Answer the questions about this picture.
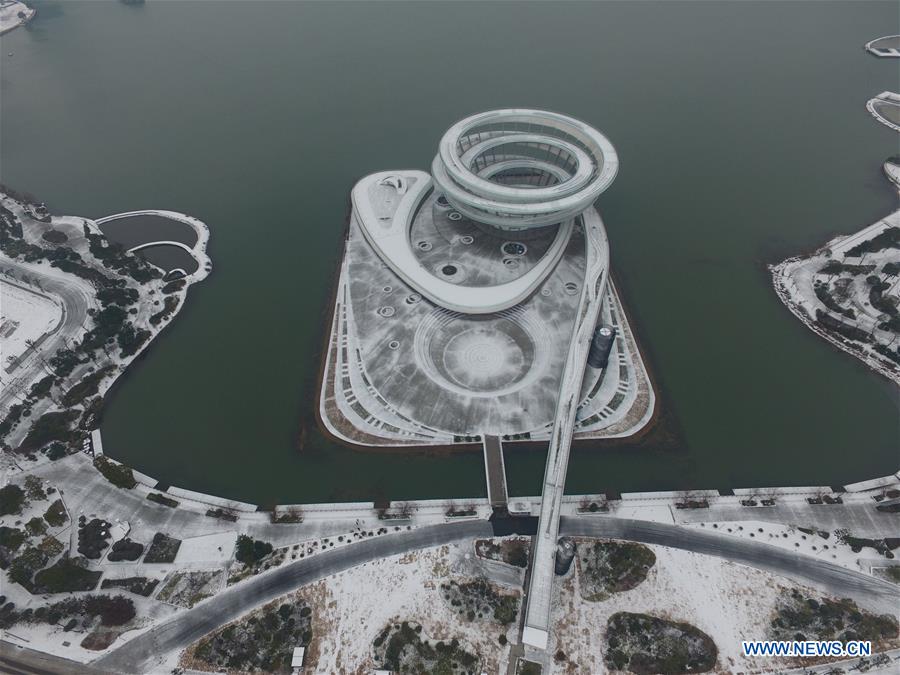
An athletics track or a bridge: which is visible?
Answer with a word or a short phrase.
bridge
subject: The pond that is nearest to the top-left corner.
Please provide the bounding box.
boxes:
[99,217,199,280]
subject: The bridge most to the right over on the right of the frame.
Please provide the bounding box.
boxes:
[522,149,609,653]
